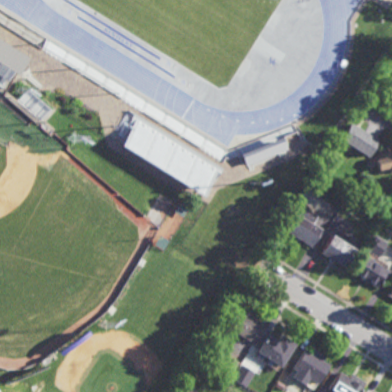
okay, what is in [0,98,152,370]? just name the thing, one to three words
baseball field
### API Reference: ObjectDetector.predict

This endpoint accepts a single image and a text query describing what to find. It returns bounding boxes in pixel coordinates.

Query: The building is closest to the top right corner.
[346,126,380,156]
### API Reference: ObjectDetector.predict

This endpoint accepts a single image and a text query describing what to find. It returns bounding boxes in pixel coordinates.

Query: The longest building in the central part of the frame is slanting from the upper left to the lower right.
[122,116,222,196]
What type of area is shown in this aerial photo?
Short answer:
sports ground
